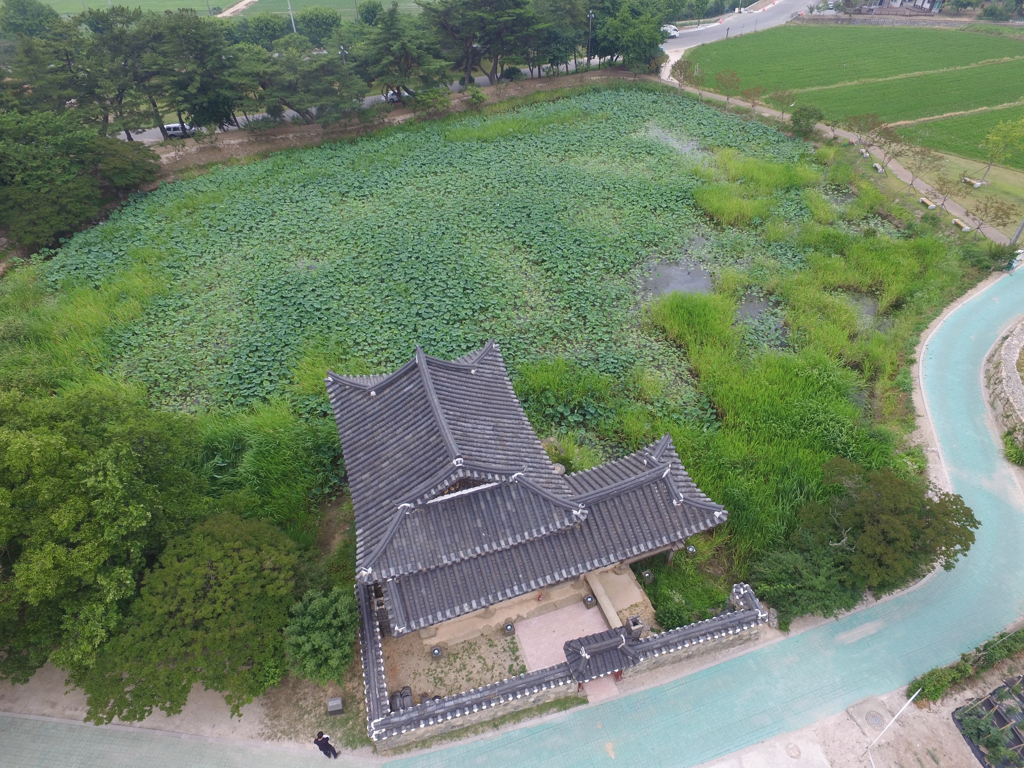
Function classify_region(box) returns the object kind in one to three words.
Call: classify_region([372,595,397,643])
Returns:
chimney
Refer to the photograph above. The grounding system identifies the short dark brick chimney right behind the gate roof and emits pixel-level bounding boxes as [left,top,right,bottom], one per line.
[626,619,644,640]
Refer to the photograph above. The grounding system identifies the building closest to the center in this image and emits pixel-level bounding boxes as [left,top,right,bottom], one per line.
[324,336,729,645]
